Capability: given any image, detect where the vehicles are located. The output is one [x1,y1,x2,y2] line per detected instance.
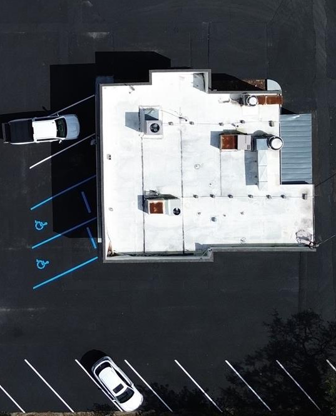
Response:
[0,113,81,144]
[92,355,143,414]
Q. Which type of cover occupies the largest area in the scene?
paved ground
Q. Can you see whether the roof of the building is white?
Yes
